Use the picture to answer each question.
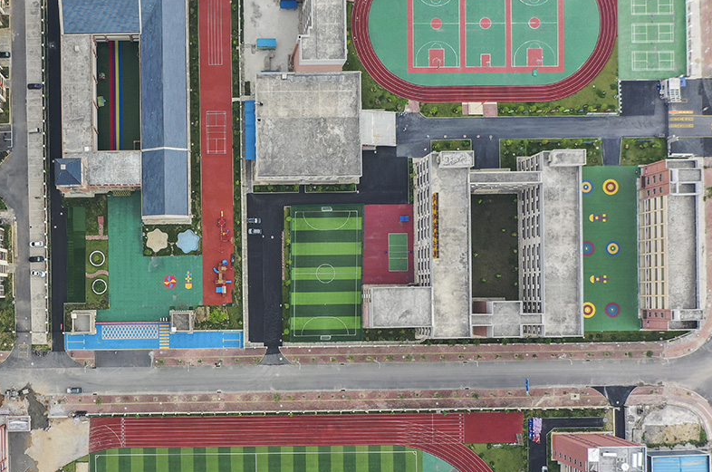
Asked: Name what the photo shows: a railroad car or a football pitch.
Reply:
football pitch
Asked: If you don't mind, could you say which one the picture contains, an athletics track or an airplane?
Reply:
athletics track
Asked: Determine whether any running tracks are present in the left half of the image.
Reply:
Yes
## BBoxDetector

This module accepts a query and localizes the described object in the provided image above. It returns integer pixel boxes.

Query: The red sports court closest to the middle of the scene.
[363,205,417,285]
